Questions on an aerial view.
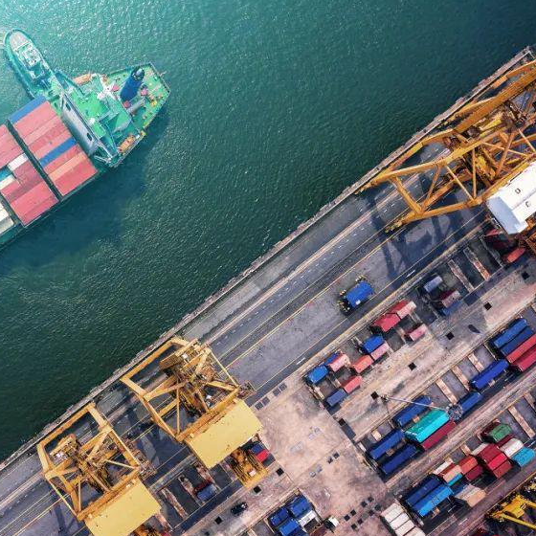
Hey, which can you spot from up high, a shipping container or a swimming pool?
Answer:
shipping container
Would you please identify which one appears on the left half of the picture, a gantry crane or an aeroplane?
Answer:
gantry crane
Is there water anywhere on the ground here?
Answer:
Yes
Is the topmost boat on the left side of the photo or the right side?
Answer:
left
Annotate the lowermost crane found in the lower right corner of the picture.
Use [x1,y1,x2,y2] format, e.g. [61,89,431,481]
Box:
[489,483,536,526]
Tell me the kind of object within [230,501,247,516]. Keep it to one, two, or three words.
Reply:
car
